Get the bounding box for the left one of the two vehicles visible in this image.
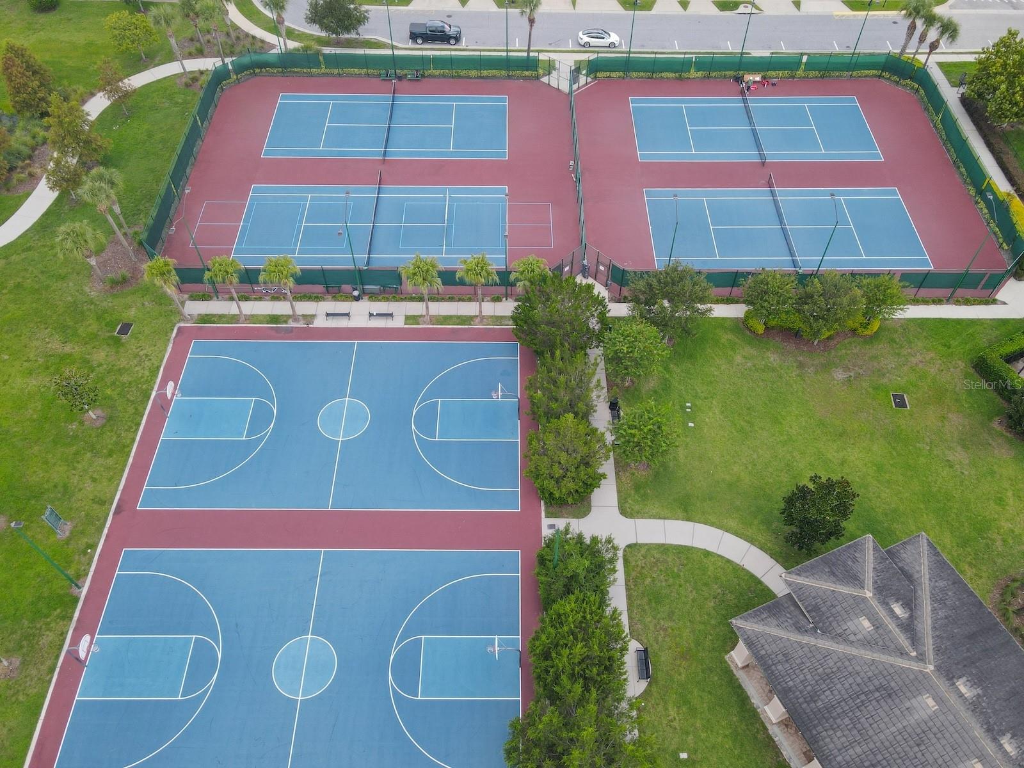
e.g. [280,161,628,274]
[408,21,462,44]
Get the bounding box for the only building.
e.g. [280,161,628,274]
[724,532,1024,768]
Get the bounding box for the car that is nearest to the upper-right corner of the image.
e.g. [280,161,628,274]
[578,28,620,47]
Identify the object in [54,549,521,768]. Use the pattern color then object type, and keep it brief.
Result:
blue basketball court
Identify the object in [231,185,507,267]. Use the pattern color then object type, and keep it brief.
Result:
blue tennis court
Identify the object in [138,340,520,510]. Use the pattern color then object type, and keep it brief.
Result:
blue basketball court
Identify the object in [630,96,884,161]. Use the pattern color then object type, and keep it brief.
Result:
blue tennis court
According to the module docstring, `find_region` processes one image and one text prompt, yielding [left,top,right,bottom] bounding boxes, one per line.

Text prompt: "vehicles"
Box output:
[408,21,462,44]
[578,28,620,47]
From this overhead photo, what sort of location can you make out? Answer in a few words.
sports ground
